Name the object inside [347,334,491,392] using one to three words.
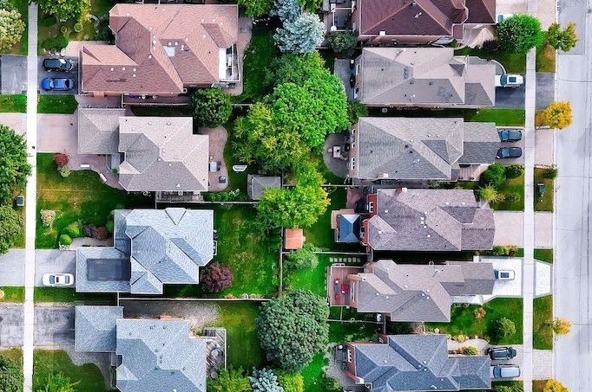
house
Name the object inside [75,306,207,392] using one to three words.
house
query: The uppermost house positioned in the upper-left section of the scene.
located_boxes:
[81,3,241,96]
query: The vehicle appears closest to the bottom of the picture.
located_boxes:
[491,364,522,379]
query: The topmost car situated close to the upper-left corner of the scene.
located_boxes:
[41,57,74,73]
